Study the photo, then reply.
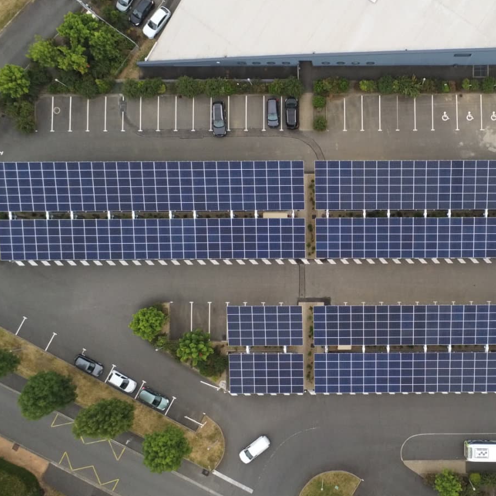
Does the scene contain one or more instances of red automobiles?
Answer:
No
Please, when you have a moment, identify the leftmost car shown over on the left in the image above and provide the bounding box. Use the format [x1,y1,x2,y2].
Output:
[73,353,104,377]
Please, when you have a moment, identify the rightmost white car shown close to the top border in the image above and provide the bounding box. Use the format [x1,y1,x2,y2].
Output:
[145,5,171,39]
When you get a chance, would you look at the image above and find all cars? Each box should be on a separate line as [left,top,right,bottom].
[130,0,155,26]
[145,5,171,39]
[266,99,280,128]
[106,369,136,392]
[137,386,171,410]
[211,101,226,136]
[283,97,299,129]
[73,353,104,377]
[240,434,271,464]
